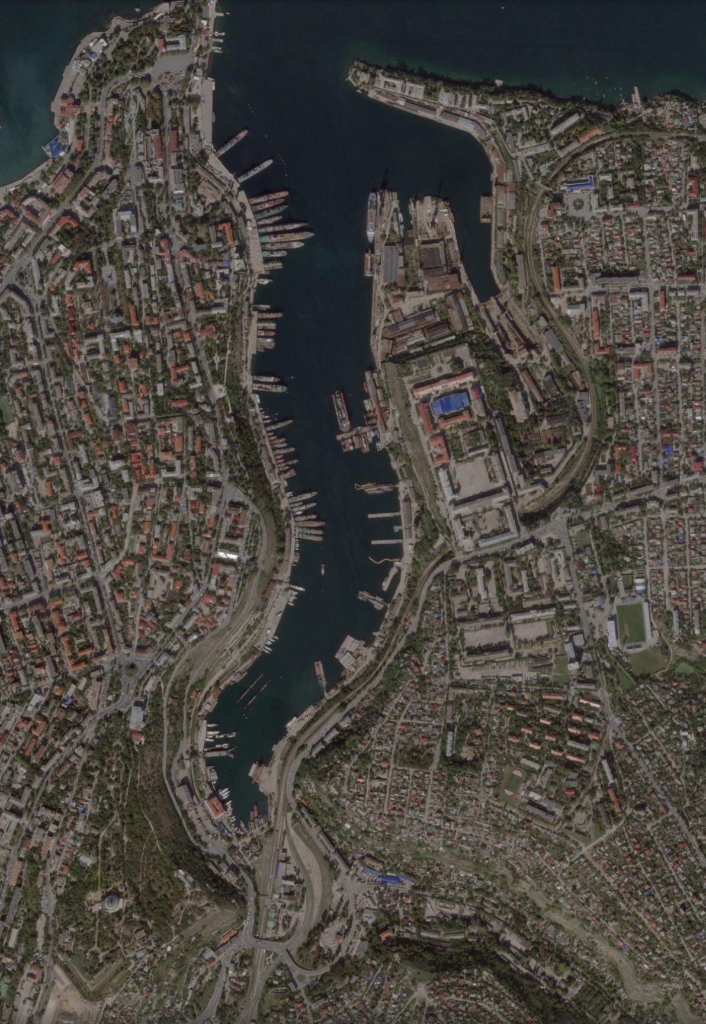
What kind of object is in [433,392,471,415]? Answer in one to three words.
building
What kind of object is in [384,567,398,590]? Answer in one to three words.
ship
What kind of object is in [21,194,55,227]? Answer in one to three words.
building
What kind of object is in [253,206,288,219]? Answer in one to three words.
ship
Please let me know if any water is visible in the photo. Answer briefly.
Yes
